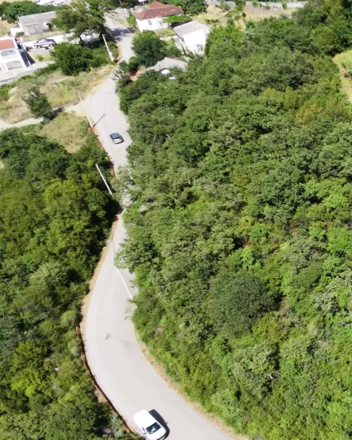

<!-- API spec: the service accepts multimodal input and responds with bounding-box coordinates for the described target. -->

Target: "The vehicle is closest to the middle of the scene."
[106,129,124,144]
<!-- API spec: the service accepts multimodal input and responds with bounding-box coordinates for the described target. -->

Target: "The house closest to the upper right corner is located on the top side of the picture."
[171,8,221,52]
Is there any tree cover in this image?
Yes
